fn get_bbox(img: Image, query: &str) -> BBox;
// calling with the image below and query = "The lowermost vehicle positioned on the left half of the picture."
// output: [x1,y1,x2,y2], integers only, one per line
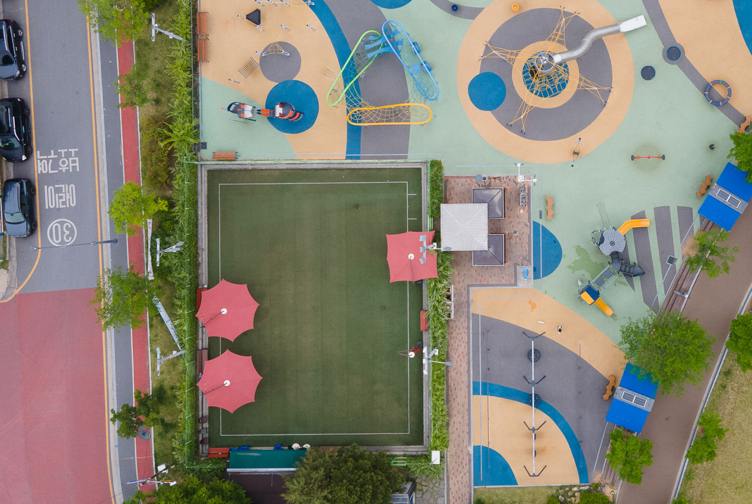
[2,179,37,237]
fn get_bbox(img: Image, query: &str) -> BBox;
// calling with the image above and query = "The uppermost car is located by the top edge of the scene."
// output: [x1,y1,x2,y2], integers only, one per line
[0,19,26,81]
